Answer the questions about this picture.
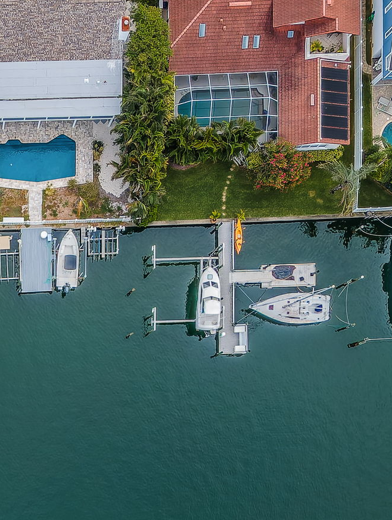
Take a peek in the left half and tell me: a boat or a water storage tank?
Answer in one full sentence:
What appears in the left half is a boat.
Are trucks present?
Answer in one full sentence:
No, there's no truck here.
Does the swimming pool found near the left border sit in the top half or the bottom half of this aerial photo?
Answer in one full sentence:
You can find the swimming pool found near the left border in the top half.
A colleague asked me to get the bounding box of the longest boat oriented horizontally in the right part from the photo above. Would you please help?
[249,288,337,324]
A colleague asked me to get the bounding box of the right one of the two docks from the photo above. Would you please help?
[214,220,249,353]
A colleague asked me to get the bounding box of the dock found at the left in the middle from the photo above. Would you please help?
[19,227,52,294]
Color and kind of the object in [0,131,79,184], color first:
blue swimming pool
